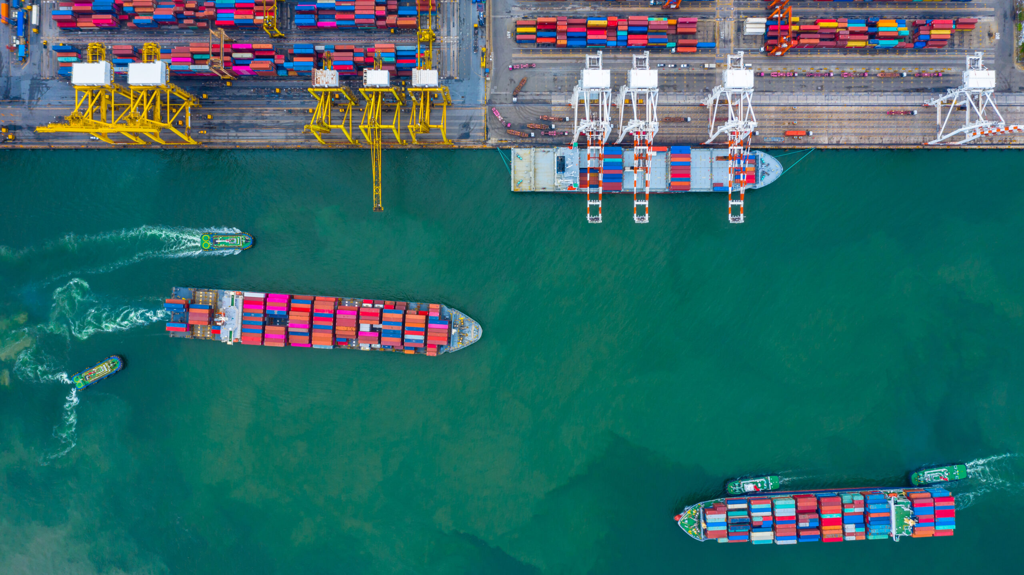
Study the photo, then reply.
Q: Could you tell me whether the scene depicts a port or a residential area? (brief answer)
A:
port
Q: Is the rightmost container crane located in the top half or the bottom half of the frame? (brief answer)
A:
top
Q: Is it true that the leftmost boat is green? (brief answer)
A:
Yes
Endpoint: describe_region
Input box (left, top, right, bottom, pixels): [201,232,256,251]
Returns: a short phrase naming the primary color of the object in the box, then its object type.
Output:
green boat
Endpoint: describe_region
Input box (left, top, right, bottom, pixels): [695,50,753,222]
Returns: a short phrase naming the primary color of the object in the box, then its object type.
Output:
white container crane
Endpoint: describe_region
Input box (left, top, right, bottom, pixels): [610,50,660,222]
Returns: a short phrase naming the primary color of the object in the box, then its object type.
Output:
white container crane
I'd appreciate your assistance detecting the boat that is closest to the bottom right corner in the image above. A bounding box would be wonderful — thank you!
[909,462,967,486]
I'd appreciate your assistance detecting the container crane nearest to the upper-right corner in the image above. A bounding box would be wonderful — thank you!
[919,50,1024,145]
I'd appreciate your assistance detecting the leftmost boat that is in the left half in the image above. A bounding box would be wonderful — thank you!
[73,356,124,390]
